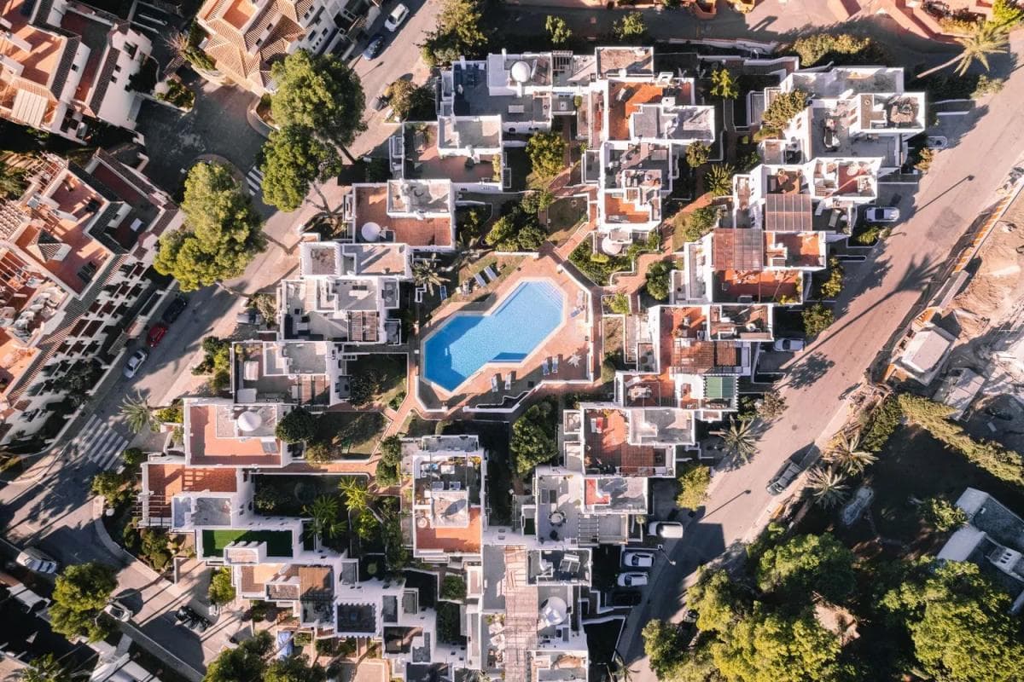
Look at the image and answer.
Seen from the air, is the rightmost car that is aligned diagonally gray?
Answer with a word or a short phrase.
Yes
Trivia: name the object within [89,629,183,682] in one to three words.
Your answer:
house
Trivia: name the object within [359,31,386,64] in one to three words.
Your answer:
car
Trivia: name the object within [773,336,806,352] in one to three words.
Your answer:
car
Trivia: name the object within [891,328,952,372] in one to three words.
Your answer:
building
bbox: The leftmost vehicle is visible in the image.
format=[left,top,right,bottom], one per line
[19,546,56,573]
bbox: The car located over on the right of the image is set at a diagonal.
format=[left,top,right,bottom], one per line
[762,460,801,494]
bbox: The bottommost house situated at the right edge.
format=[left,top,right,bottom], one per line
[915,479,1024,620]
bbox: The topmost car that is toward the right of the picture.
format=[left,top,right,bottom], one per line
[920,134,949,150]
